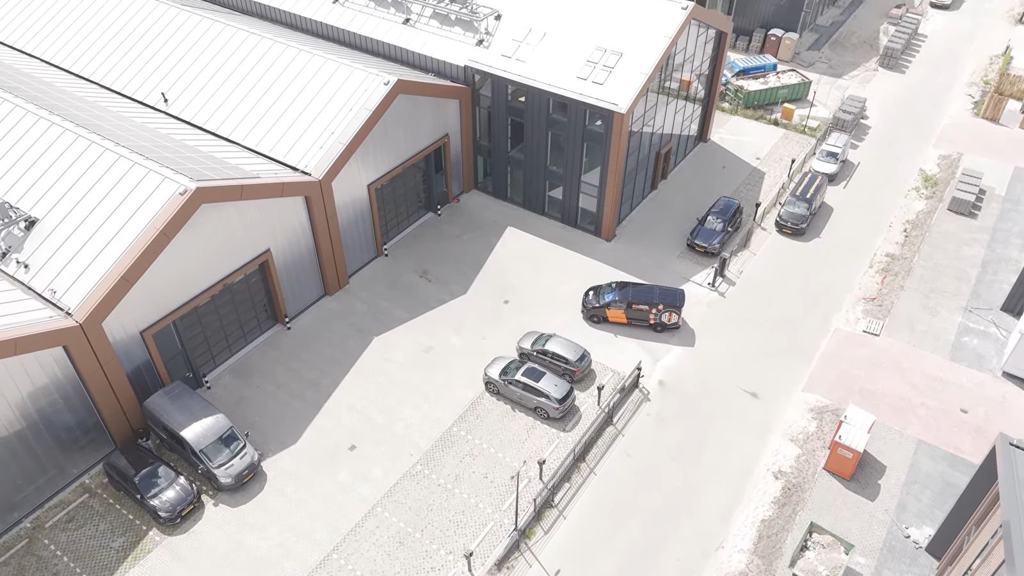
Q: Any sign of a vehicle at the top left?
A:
No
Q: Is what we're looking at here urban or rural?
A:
urban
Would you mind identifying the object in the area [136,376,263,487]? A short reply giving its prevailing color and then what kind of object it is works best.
gray van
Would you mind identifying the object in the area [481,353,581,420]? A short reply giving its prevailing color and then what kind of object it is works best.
gray car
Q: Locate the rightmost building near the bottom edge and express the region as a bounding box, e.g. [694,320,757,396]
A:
[925,430,1024,576]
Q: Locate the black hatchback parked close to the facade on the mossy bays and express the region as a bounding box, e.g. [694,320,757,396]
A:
[102,442,203,525]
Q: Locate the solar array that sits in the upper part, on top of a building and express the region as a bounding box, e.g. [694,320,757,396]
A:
[0,67,257,179]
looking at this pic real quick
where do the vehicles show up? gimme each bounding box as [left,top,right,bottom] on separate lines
[102,442,203,525]
[481,353,581,420]
[578,276,687,331]
[774,173,829,238]
[718,54,778,97]
[136,376,263,487]
[685,197,744,259]
[809,119,859,179]
[513,326,598,381]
